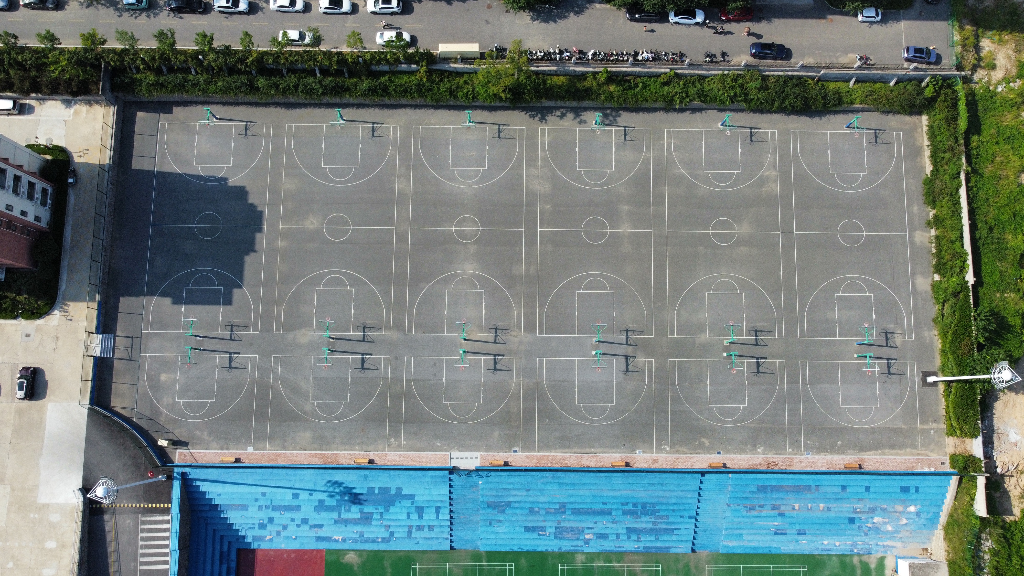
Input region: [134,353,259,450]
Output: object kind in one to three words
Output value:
basketball court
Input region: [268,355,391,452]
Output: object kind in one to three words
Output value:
basketball court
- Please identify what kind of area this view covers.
sports ground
